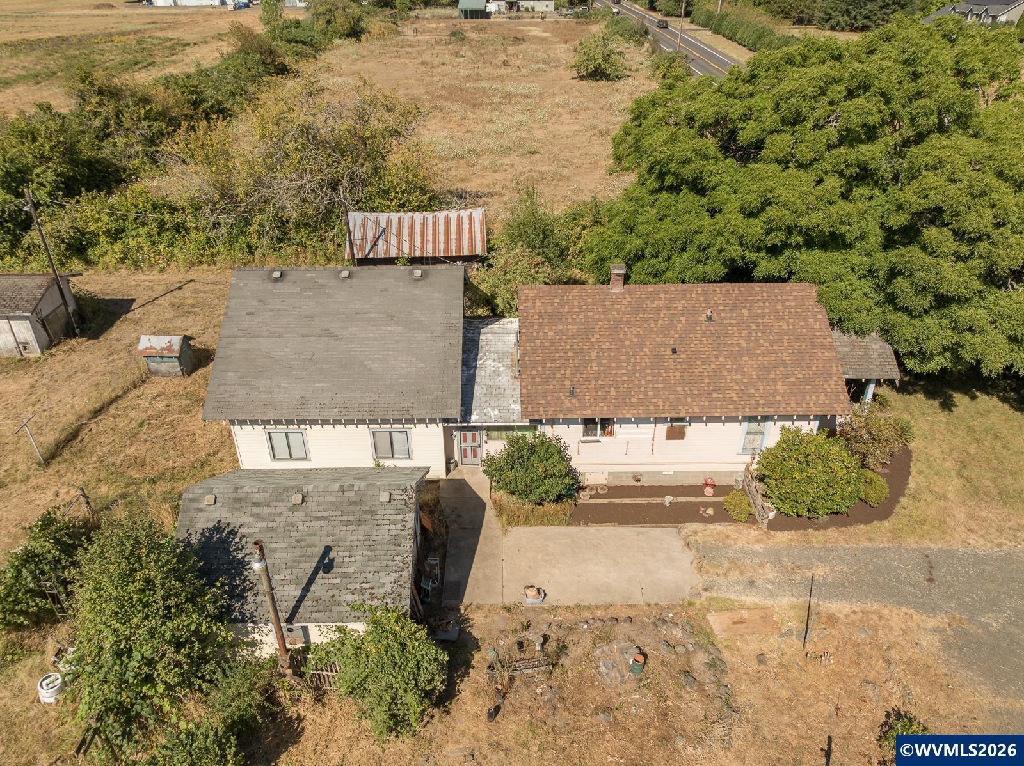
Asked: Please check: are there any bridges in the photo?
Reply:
No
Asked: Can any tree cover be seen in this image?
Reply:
Yes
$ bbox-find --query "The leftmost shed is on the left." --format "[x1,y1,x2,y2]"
[0,273,88,354]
